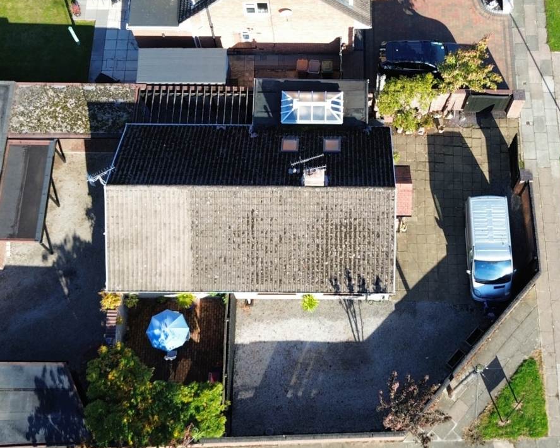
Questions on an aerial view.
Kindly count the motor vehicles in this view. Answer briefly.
2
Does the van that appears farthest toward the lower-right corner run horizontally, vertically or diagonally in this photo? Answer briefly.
vertically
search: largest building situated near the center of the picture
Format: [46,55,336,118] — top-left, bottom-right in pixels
[102,126,398,306]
